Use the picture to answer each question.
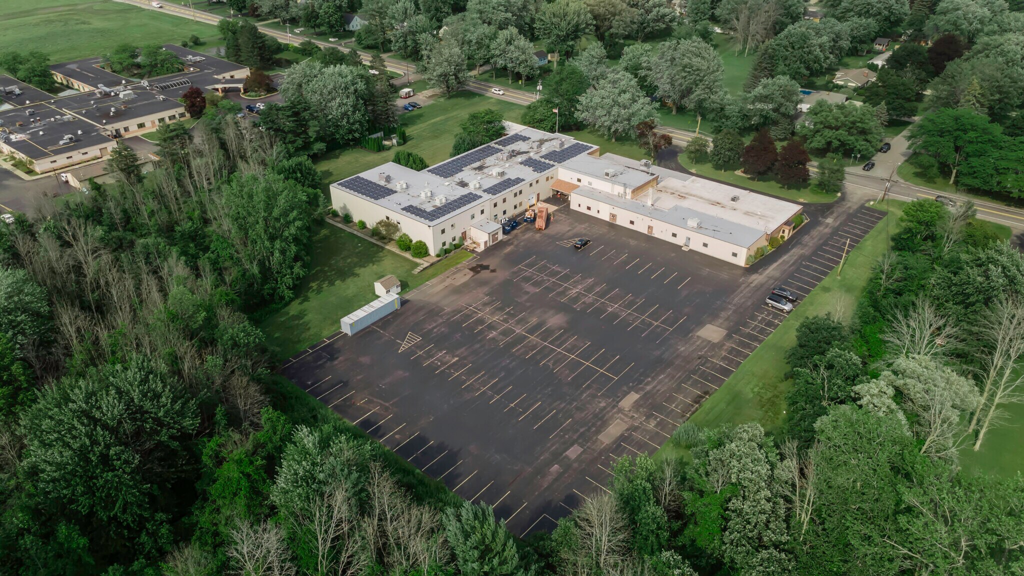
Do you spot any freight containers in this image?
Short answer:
Yes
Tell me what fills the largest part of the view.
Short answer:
trees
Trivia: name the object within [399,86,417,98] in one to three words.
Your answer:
vehicle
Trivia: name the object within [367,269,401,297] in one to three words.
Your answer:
shed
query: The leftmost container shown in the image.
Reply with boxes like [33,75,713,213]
[344,291,404,335]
